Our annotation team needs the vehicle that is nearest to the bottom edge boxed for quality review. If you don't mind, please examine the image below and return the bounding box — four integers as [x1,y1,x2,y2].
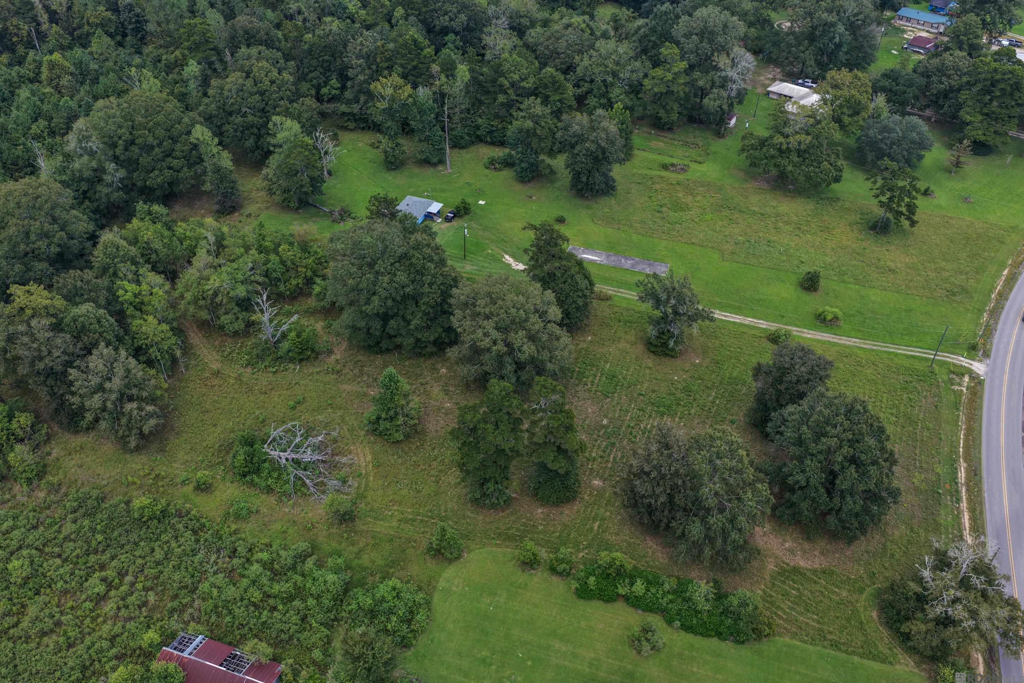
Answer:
[442,208,456,222]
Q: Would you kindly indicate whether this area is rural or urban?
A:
rural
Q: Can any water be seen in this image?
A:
No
